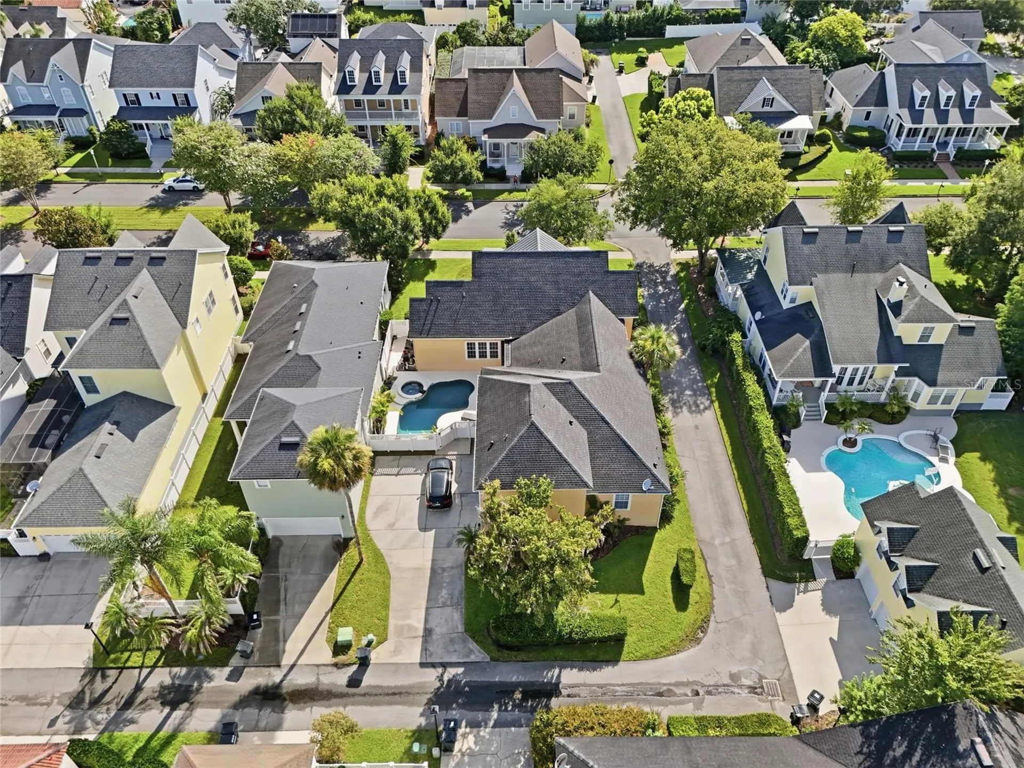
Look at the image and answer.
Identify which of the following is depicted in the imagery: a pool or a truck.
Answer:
pool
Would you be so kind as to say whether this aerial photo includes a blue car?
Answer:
No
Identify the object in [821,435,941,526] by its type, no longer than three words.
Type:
swimming pool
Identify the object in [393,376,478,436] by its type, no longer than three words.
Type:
swimming pool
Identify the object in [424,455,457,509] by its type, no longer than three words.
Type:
car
